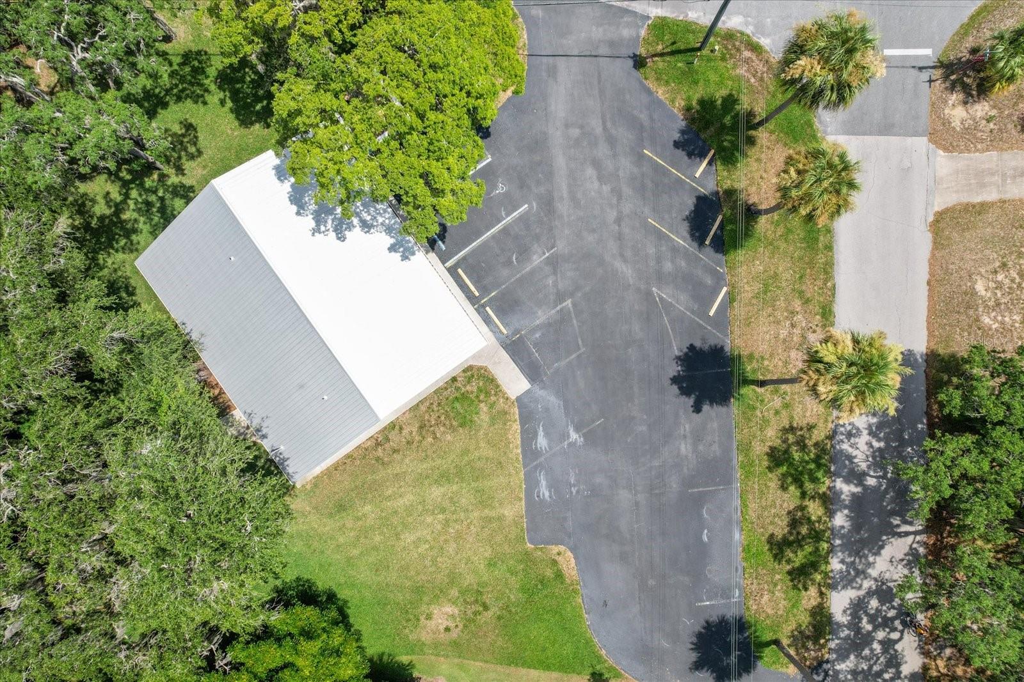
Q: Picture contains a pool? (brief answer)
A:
No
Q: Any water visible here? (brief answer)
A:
No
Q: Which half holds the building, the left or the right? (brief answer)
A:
left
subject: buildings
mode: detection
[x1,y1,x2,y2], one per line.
[128,121,487,486]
